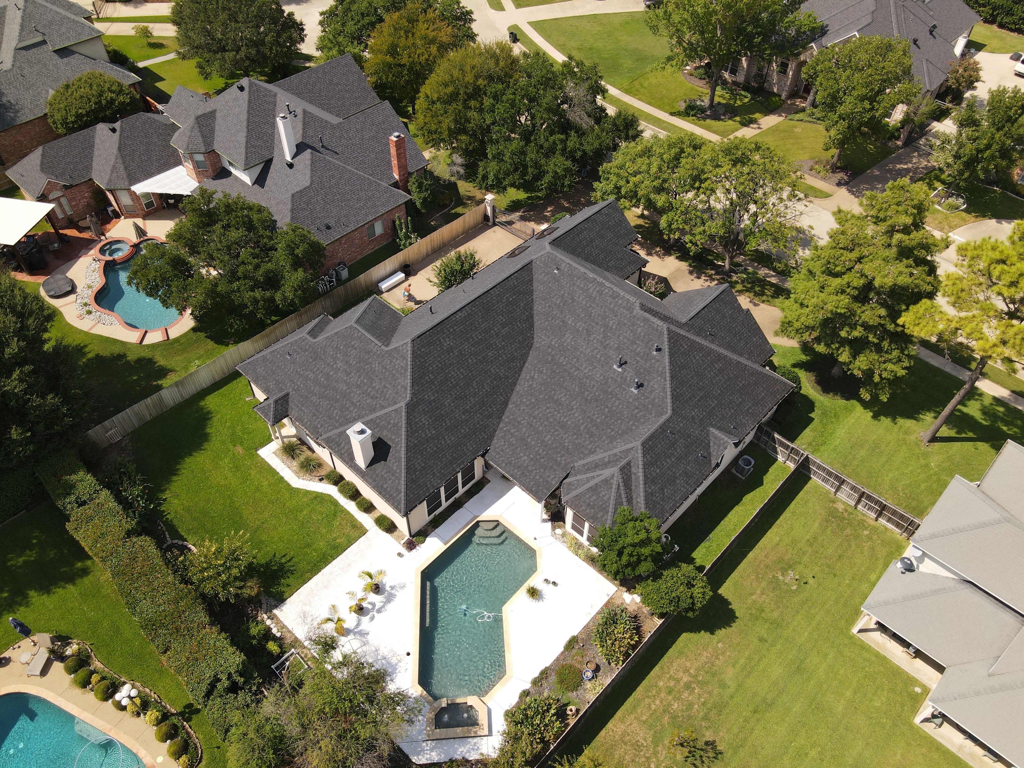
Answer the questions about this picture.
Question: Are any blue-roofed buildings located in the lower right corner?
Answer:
No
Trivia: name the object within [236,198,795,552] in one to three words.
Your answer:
house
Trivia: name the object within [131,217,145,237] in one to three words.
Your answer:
umbrella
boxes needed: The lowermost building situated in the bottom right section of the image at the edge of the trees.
[855,439,1024,768]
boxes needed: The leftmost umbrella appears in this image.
[9,621,29,647]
